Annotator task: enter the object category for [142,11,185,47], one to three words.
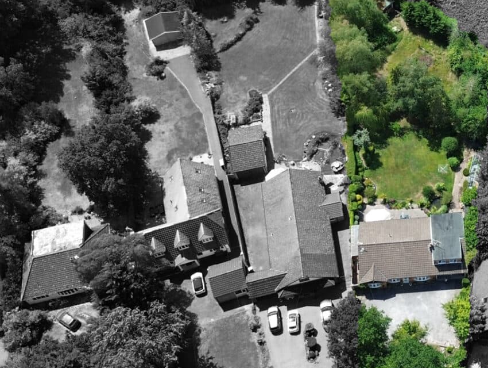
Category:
building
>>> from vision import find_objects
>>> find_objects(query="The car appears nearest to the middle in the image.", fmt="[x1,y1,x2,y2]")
[190,271,208,298]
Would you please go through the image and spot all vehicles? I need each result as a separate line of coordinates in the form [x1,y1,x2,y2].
[319,299,338,332]
[285,306,303,339]
[190,271,208,298]
[264,304,284,338]
[54,308,83,335]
